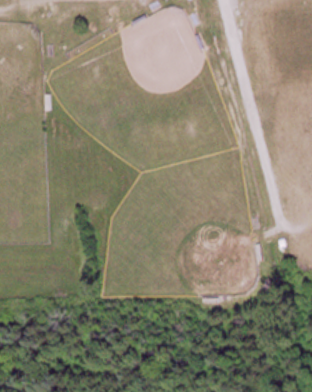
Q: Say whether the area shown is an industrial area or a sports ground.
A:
sports ground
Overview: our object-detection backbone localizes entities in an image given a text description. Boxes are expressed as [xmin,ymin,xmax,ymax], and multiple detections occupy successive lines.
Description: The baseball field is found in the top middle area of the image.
[48,6,240,172]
